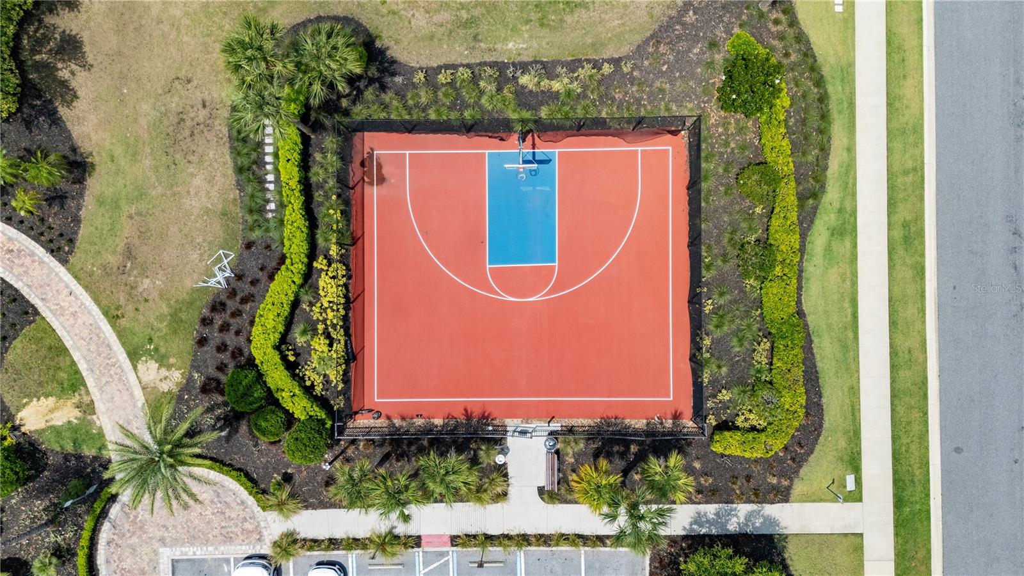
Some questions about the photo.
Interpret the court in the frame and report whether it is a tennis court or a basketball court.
basketball court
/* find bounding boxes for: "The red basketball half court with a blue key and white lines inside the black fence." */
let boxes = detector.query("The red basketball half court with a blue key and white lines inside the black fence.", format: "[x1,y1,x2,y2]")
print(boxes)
[351,129,694,421]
